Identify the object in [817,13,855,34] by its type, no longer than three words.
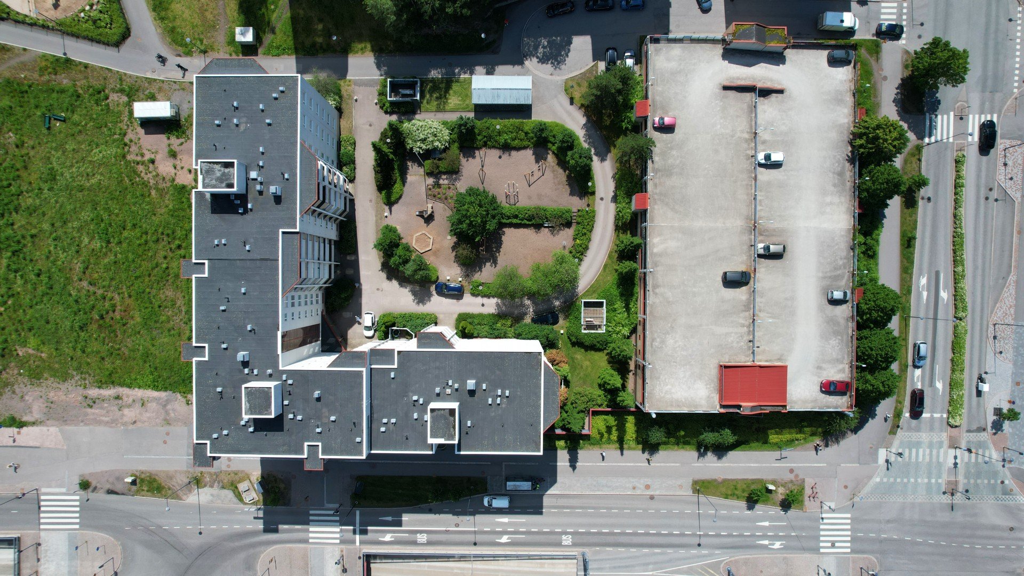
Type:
truck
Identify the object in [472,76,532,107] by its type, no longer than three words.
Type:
shed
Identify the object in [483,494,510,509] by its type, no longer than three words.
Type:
vehicle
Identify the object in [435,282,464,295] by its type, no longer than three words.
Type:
vehicle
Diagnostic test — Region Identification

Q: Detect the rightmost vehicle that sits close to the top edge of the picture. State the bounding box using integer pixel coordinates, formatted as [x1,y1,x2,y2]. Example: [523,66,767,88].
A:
[875,22,904,37]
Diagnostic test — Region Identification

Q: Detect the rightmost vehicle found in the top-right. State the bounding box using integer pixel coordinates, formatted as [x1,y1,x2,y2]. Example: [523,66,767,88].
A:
[979,119,997,150]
